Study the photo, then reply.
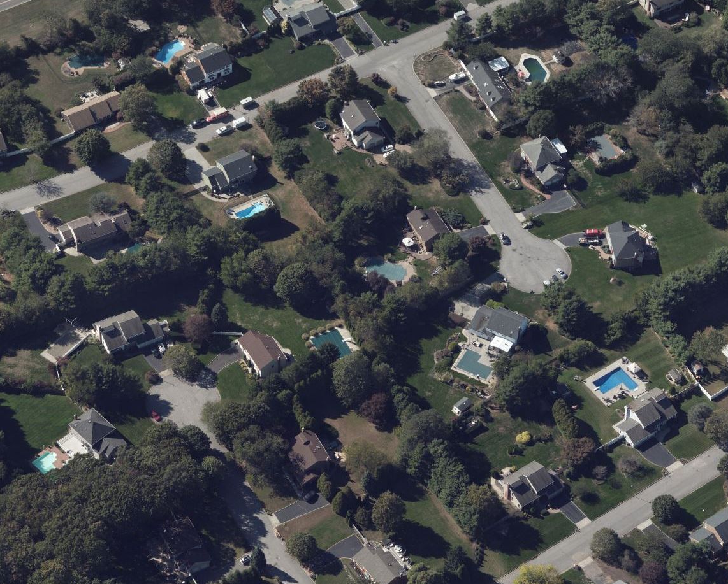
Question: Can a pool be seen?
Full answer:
Yes, the photo shows a pool.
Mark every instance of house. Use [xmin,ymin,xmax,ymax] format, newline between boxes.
[207,153,256,195]
[519,135,562,190]
[92,314,165,357]
[237,327,287,379]
[409,207,452,250]
[602,221,644,269]
[155,522,210,579]
[69,410,122,465]
[696,510,728,559]
[338,99,385,152]
[503,466,565,515]
[56,211,128,251]
[288,428,330,490]
[61,88,127,136]
[618,396,678,451]
[459,62,512,113]
[356,541,406,584]
[179,44,232,88]
[285,4,331,43]
[467,306,534,351]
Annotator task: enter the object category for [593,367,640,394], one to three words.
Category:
swimming pool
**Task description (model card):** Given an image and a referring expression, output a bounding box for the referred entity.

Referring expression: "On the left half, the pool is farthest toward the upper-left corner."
[69,53,106,69]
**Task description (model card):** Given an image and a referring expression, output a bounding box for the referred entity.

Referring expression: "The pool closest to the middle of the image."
[367,259,408,281]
